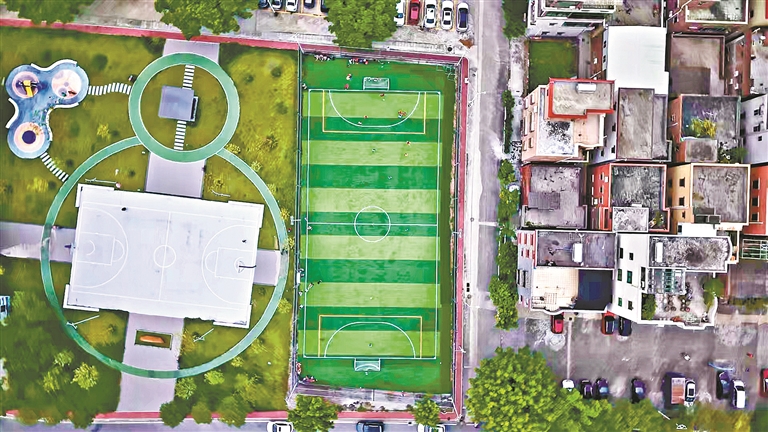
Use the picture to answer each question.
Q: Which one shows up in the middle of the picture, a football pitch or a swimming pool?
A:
football pitch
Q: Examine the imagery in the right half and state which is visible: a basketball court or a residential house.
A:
residential house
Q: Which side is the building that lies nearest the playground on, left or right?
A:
left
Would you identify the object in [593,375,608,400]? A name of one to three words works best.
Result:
car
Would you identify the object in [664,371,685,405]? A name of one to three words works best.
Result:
truck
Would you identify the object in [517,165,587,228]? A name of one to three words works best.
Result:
house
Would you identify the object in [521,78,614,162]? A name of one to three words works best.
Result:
house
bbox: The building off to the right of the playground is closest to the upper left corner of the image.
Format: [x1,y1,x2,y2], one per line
[158,86,201,124]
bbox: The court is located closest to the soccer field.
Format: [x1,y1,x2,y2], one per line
[68,188,261,326]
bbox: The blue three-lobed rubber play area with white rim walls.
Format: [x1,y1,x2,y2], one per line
[5,58,88,158]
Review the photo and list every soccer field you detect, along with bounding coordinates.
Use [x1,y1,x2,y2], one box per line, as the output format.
[297,53,457,395]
